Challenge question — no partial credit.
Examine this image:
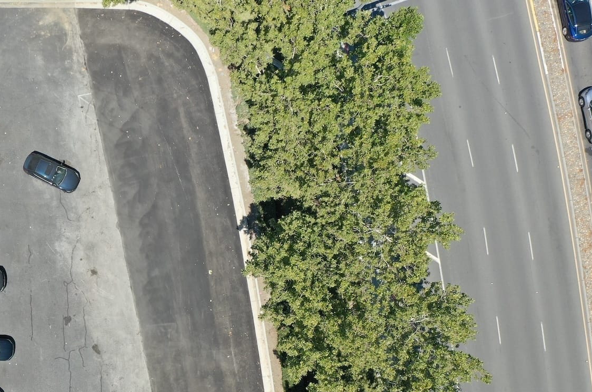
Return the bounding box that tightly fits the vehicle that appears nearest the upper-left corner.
[21,151,81,191]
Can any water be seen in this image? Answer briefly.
No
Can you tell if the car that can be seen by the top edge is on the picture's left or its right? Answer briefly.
right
